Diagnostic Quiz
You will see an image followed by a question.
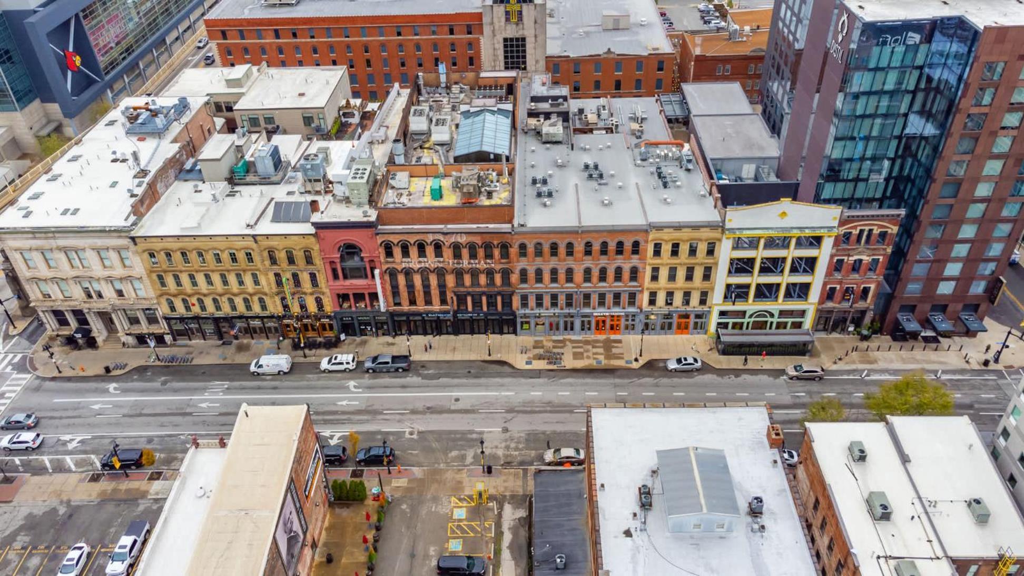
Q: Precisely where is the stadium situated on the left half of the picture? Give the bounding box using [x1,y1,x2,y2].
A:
[0,0,213,142]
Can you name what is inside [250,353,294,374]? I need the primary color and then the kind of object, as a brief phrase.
white vehicle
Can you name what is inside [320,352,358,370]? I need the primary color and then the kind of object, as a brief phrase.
white car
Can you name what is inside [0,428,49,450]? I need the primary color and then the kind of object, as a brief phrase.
white car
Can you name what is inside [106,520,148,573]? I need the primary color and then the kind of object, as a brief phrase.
white truck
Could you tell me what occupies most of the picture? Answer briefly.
buildings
